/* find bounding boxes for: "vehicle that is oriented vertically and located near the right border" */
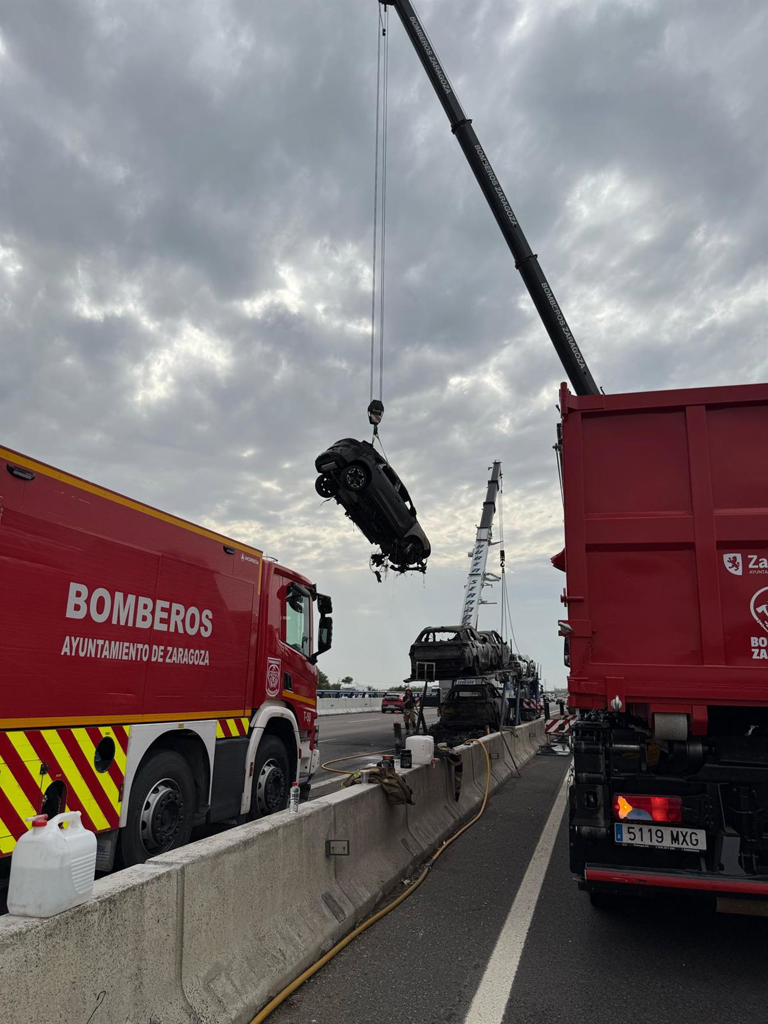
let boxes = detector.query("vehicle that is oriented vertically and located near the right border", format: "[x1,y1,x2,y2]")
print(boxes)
[555,379,768,909]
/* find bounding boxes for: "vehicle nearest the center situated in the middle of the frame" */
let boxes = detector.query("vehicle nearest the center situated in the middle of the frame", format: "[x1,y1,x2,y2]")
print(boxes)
[307,440,438,599]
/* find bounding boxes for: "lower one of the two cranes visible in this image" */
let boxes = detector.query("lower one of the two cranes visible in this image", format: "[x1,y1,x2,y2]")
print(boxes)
[414,451,539,722]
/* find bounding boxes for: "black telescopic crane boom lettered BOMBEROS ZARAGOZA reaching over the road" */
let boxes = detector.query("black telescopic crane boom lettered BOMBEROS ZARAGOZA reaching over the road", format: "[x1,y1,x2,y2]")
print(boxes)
[365,0,600,469]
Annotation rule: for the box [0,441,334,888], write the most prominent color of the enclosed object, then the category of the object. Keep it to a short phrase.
red truck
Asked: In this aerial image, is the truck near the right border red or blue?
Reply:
red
